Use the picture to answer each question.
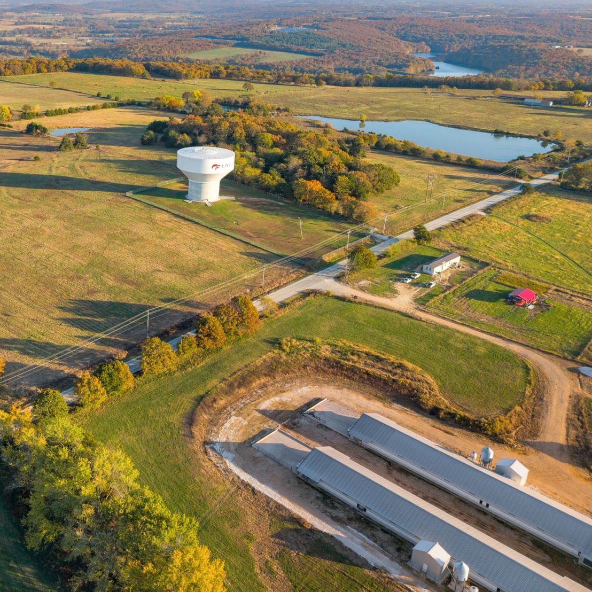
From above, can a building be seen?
Yes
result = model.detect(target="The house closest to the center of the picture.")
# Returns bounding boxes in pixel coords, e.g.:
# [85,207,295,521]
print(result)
[422,250,463,274]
